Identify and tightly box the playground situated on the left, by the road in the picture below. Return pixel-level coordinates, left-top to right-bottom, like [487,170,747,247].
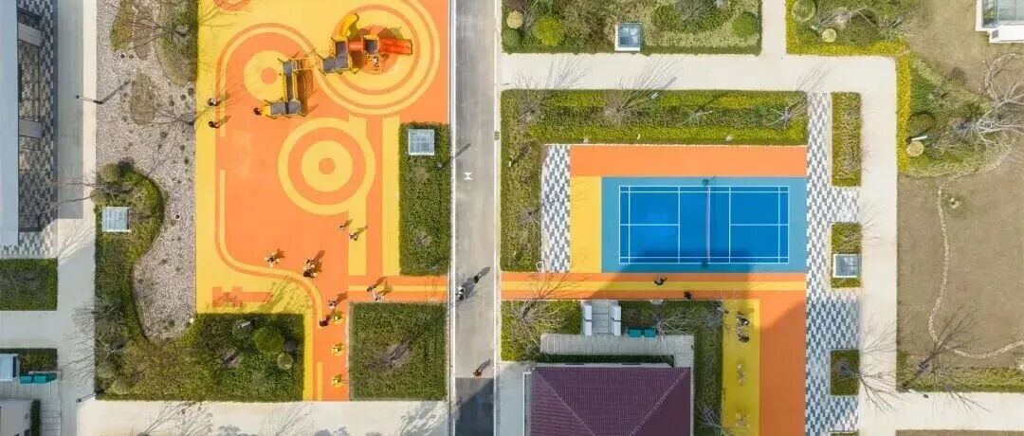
[196,0,449,401]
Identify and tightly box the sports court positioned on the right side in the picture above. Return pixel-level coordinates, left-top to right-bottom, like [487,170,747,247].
[602,177,806,273]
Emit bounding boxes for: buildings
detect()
[977,0,1024,42]
[0,0,40,245]
[524,363,691,436]
[0,401,34,436]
